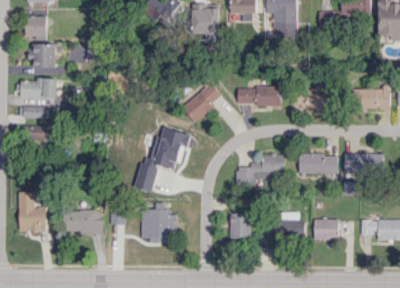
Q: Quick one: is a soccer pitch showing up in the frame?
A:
No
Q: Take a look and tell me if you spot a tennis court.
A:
No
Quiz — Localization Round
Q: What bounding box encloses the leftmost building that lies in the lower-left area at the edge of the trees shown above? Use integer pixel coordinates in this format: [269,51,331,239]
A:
[18,190,46,233]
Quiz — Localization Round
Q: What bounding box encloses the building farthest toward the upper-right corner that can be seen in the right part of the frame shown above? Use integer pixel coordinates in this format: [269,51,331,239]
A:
[379,0,400,42]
